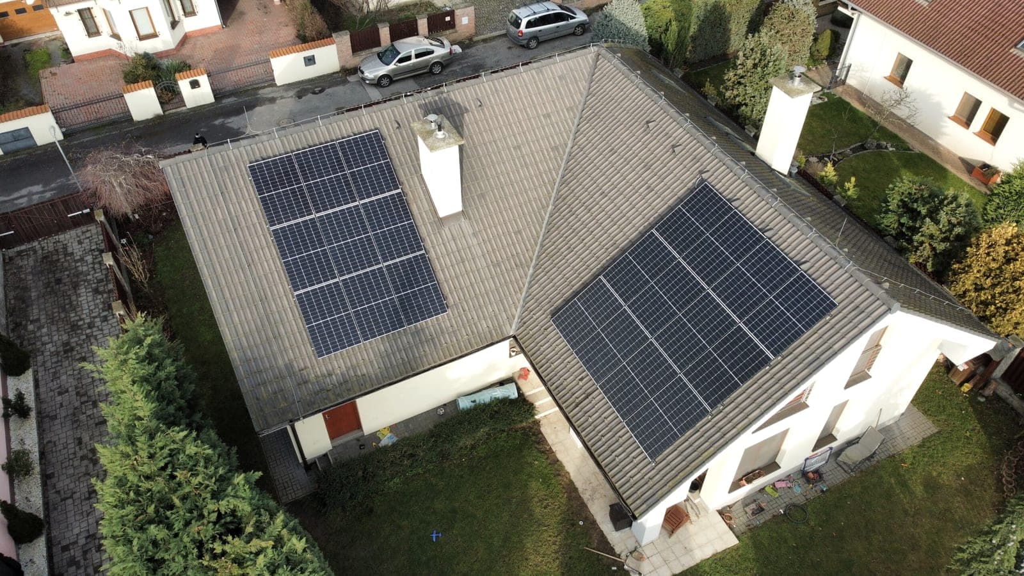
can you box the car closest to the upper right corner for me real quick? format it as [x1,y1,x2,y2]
[503,0,594,48]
